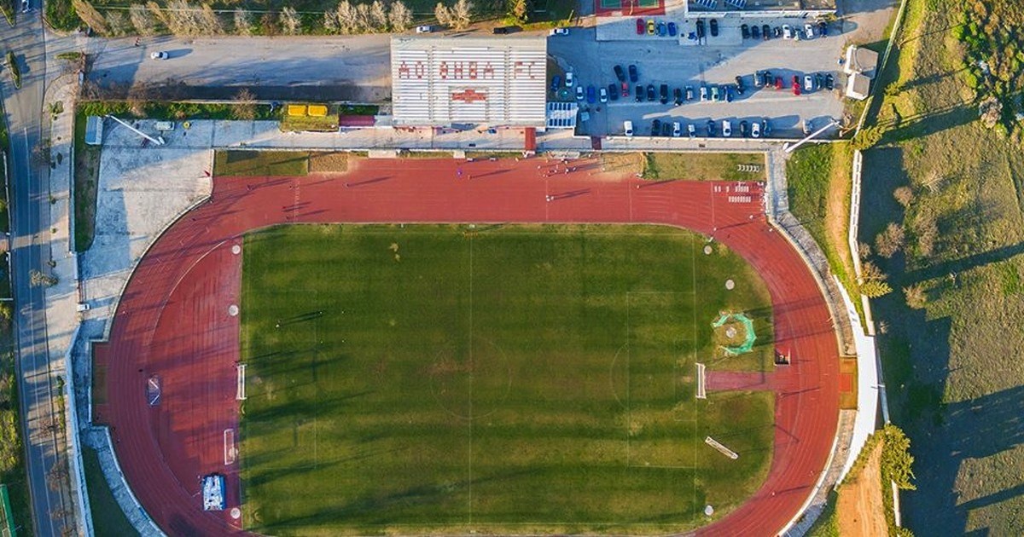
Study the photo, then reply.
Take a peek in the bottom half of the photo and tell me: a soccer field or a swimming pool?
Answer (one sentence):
There is a soccer field in the bottom half of the photo.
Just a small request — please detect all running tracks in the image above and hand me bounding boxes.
[91,158,841,537]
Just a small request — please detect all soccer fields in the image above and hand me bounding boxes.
[240,224,774,534]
